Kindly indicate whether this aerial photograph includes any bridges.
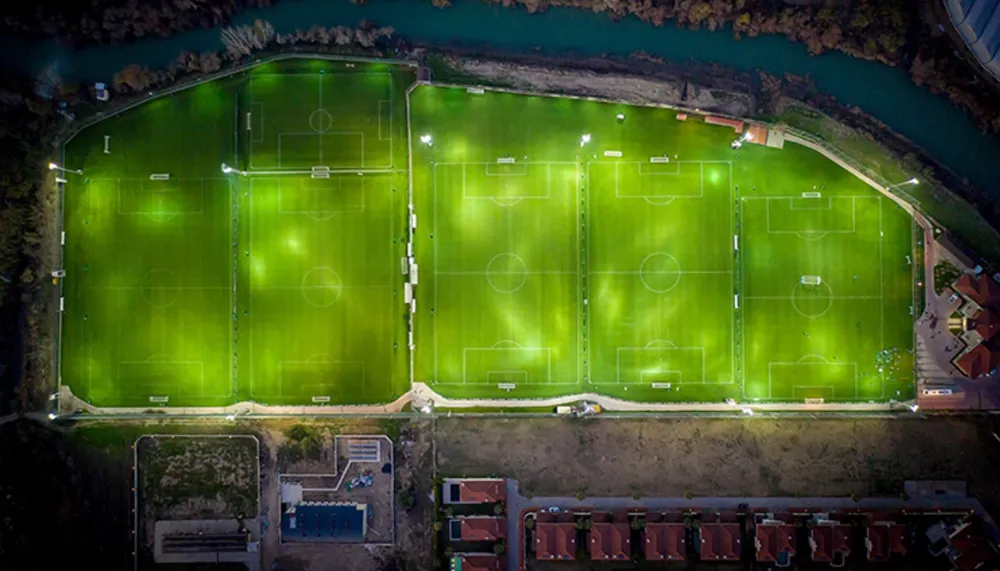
No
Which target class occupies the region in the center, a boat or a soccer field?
soccer field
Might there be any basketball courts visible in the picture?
No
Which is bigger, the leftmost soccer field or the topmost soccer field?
the leftmost soccer field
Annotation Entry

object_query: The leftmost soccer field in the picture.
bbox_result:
[88,177,231,397]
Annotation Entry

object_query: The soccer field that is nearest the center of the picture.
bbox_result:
[434,162,580,385]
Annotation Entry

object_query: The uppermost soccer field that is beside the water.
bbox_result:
[249,72,392,169]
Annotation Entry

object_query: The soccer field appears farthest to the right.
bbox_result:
[740,195,884,399]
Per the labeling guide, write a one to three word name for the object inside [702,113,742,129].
building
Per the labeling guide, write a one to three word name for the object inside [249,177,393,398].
soccer field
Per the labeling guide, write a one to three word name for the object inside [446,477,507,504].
house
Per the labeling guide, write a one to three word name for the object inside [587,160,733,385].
soccer field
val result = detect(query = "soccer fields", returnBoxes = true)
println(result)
[587,160,733,385]
[249,177,393,398]
[740,195,884,399]
[434,162,580,385]
[249,72,392,169]
[88,177,231,397]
